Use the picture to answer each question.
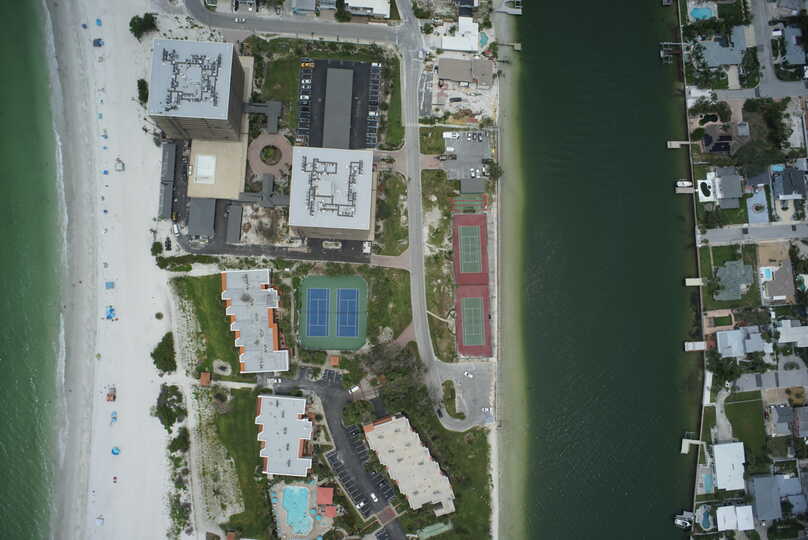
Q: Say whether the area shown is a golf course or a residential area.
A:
residential area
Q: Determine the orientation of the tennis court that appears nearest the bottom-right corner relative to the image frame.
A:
up and down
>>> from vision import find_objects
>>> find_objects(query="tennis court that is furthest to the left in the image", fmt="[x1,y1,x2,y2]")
[298,276,333,350]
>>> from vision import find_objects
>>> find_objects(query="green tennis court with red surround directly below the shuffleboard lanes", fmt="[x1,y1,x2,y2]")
[453,212,489,284]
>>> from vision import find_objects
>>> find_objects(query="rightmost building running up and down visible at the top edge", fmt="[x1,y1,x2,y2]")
[784,25,805,66]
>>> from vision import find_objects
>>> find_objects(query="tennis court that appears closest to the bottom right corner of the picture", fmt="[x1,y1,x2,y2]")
[455,284,493,356]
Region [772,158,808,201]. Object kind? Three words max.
house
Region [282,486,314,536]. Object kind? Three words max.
swimming pool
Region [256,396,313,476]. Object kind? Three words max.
building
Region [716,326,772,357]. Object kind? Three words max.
house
